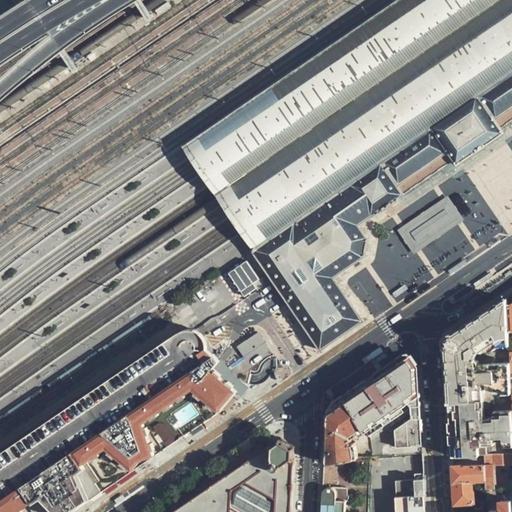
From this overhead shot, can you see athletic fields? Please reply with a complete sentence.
No, I can see no athletic field in this picture.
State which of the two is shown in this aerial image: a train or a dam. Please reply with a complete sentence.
Looking from above, you can make out a train.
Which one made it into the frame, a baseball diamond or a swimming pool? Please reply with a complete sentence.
I can see a swimming pool in this picture.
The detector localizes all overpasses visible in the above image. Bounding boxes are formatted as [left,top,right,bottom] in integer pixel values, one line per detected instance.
[0,0,152,102]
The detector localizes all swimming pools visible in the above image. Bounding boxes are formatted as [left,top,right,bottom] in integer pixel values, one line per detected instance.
[172,402,200,430]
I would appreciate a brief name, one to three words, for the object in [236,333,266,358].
building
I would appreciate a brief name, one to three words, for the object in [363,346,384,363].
vehicle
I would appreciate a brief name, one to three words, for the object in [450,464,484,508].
house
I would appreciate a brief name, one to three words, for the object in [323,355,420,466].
building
